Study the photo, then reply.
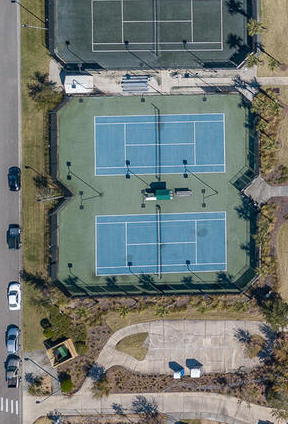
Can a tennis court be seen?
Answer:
Yes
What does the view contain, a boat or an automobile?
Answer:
automobile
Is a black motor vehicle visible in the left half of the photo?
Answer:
Yes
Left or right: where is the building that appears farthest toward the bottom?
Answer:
left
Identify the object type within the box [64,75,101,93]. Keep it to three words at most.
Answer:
shed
